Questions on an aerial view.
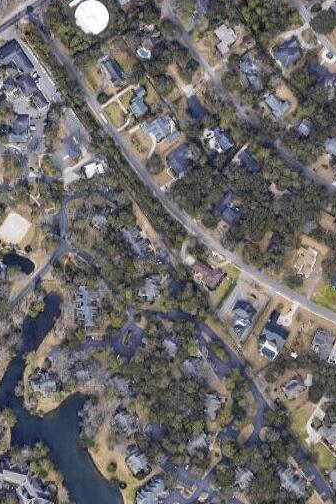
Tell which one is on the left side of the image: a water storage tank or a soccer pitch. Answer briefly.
water storage tank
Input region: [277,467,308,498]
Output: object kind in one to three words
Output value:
house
